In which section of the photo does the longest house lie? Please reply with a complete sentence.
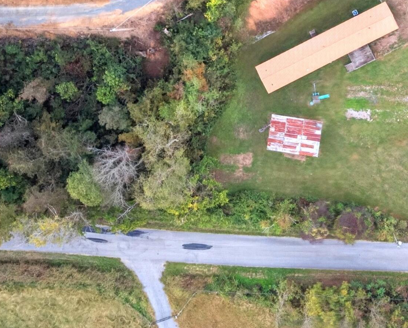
You can find the longest house in the top right area of the picture.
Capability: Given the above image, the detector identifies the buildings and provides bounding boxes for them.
[256,2,398,93]
[267,114,323,156]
